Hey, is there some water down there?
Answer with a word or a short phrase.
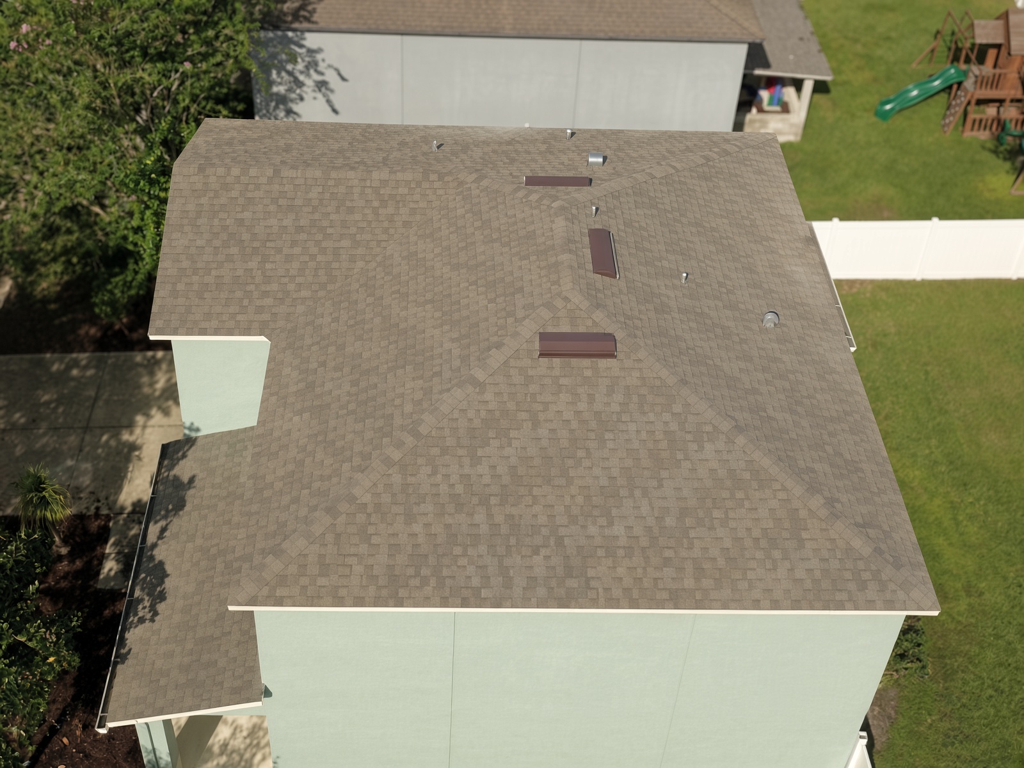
No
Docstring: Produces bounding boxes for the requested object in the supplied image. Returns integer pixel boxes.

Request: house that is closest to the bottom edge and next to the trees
[93,116,940,768]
